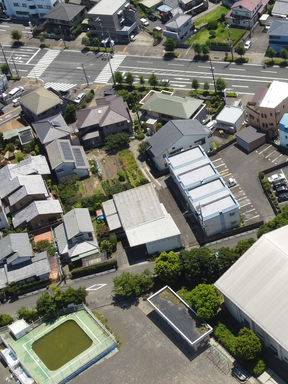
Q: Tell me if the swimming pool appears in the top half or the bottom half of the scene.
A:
bottom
